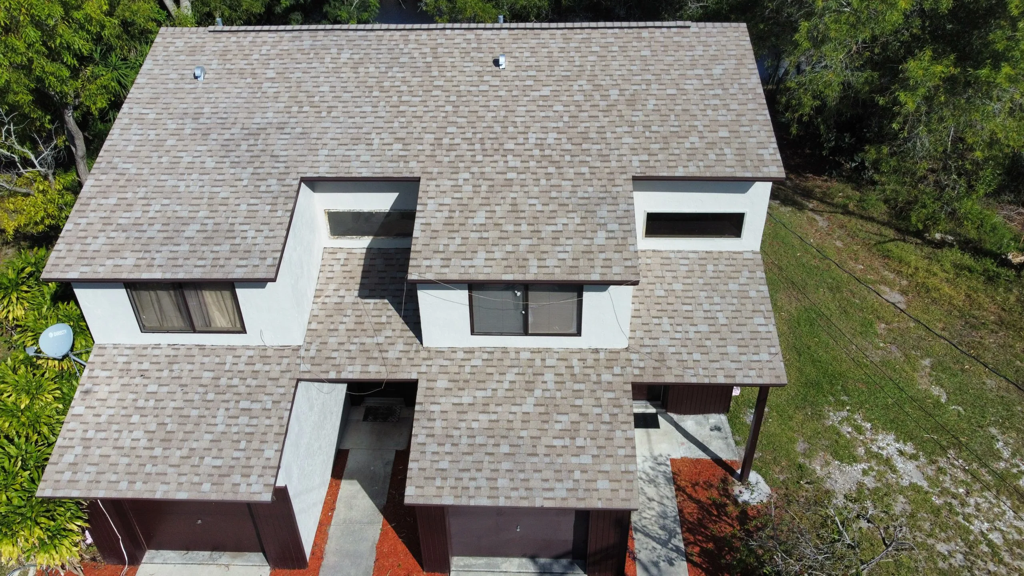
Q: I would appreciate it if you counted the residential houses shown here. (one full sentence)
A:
Only 1 residential house is visible.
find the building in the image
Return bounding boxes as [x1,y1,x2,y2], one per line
[35,15,789,574]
